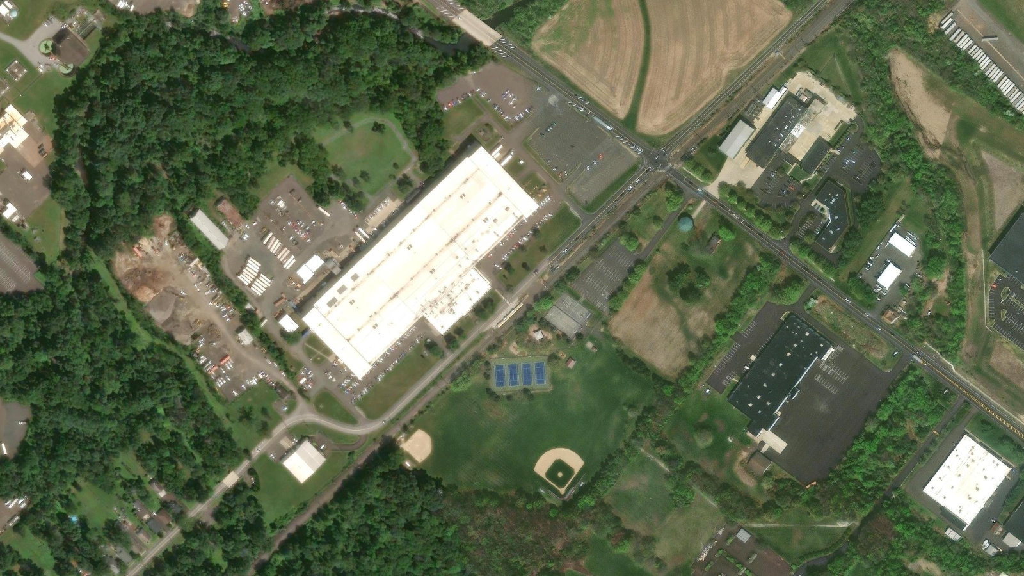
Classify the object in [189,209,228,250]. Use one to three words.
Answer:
shed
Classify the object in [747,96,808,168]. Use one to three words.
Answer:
building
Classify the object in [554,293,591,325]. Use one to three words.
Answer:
basketball court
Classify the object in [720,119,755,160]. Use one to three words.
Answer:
hangar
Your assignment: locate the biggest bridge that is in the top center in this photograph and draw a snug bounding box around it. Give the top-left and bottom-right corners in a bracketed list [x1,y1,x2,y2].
[452,9,502,46]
